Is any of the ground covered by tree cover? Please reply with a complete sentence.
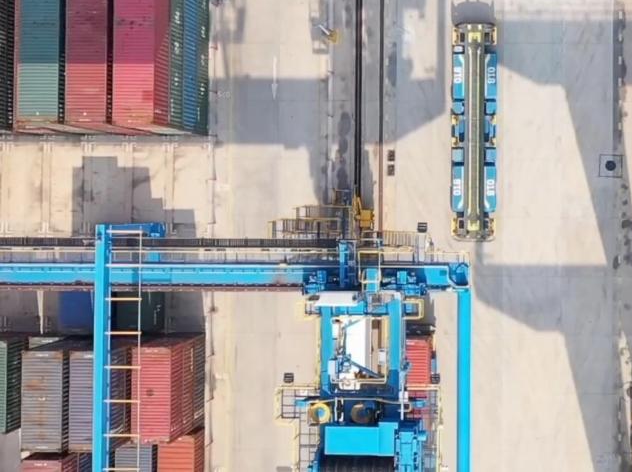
No, the picture contains no tree cover.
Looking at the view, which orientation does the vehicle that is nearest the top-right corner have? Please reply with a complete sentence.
The vehicle that is nearest the top-right corner is laid out from top to bottom.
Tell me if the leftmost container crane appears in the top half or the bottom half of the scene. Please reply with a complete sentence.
Seen from above, the leftmost container crane lies in the bottom half of the view.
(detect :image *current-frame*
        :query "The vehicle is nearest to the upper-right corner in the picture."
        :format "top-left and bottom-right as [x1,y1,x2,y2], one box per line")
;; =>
[452,21,499,239]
